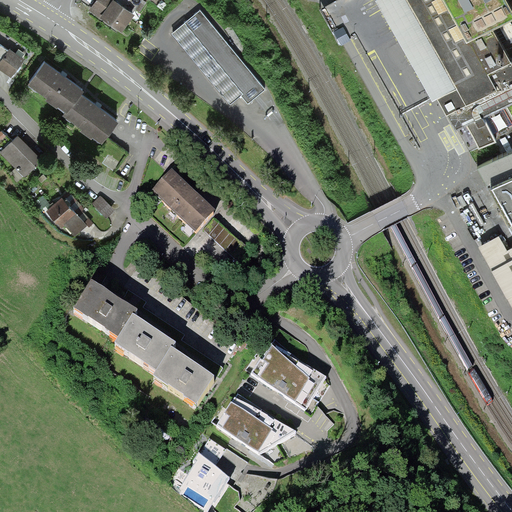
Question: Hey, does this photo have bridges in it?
Yes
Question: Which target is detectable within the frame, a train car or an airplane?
train car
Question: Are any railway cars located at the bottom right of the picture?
Yes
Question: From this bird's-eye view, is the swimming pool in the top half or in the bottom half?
bottom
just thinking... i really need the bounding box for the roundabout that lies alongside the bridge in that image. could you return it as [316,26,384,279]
[282,213,354,284]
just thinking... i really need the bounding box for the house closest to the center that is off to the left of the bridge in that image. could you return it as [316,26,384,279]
[152,168,214,233]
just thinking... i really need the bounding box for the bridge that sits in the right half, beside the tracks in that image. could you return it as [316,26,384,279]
[347,192,425,250]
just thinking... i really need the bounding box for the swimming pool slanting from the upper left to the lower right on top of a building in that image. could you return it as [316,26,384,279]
[184,486,209,508]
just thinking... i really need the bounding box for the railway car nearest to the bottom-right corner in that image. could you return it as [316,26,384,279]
[468,369,490,403]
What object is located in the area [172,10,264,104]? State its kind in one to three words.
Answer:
shed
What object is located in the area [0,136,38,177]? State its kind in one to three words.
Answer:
house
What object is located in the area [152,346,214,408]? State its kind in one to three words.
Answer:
building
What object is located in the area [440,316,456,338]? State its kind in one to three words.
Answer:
rail car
